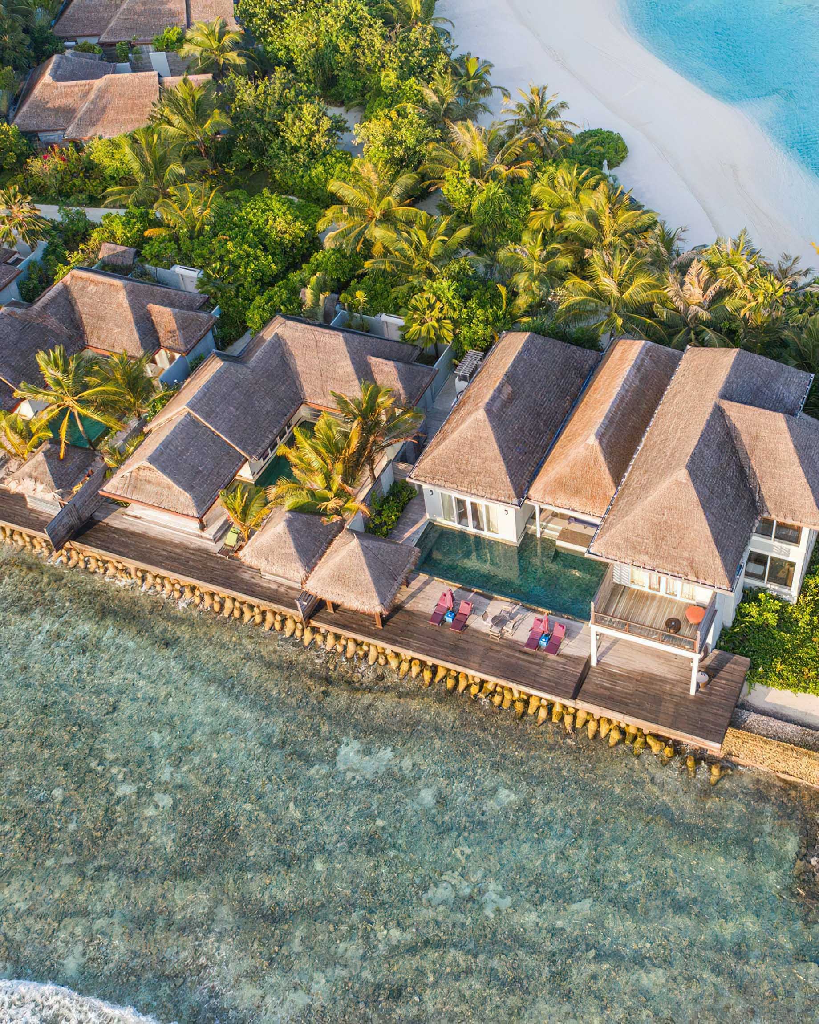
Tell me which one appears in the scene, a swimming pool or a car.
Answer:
swimming pool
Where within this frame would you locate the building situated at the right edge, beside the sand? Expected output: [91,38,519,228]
[584,345,819,696]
